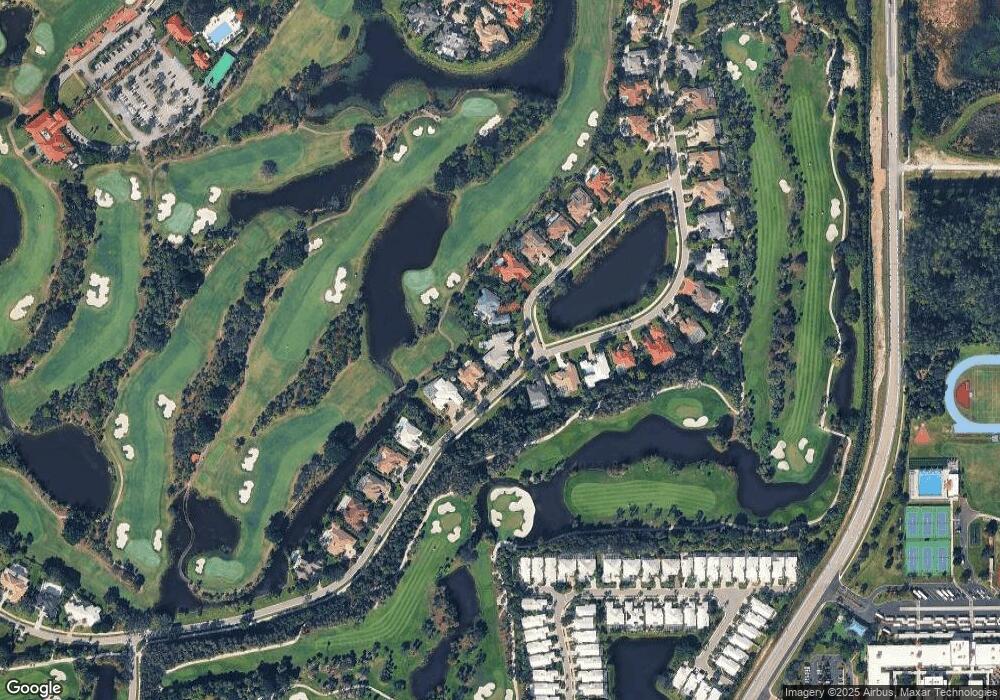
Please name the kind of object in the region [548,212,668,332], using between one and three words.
pond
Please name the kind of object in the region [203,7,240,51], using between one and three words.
swimming pool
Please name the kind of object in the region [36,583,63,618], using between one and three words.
house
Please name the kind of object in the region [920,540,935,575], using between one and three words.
tennis court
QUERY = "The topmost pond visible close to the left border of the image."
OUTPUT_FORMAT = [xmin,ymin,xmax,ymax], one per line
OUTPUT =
[0,5,33,67]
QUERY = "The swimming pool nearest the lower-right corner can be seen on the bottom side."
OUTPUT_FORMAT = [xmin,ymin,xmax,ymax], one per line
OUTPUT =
[909,469,951,503]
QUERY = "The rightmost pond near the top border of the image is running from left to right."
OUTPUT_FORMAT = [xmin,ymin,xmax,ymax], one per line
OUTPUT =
[305,0,577,120]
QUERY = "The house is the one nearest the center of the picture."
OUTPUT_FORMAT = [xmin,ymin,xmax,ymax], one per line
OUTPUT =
[478,330,515,371]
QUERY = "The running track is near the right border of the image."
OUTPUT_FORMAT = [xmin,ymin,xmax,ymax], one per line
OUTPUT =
[945,354,1000,432]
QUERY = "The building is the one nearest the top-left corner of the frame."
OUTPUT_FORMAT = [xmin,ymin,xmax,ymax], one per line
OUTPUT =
[25,105,70,164]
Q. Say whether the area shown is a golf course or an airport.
golf course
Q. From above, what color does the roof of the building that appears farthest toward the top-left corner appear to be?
red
